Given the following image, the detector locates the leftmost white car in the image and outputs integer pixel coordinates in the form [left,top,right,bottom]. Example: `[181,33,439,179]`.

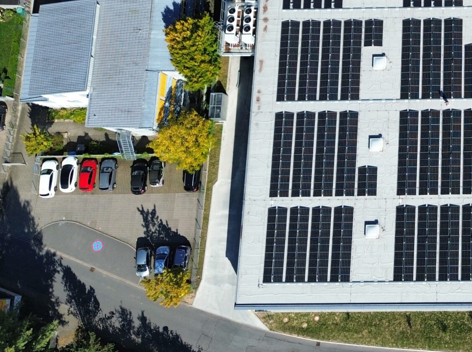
[39,161,62,196]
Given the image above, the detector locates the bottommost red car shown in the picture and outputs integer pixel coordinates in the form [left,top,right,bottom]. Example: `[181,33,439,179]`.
[78,159,102,192]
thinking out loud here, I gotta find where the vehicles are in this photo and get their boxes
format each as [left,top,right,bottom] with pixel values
[149,158,167,186]
[58,157,83,193]
[130,159,149,193]
[78,159,102,192]
[151,242,174,277]
[98,158,120,192]
[183,162,203,196]
[133,245,155,279]
[171,241,193,274]
[39,161,62,196]
[0,102,12,132]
